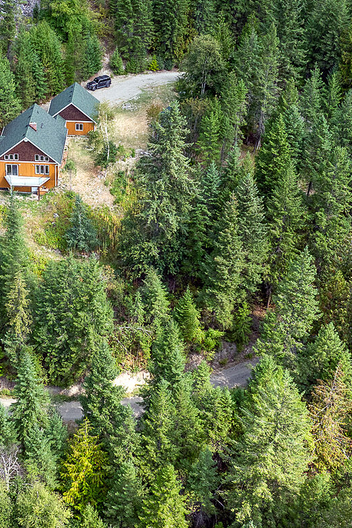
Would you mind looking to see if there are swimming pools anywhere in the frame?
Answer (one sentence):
No, no swimming pool is visible in the view.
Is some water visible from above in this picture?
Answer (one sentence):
No, the picture contains no water.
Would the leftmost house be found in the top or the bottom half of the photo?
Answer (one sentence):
The leftmost house is in the top half of the image.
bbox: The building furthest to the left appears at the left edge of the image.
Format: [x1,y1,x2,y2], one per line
[0,104,69,202]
